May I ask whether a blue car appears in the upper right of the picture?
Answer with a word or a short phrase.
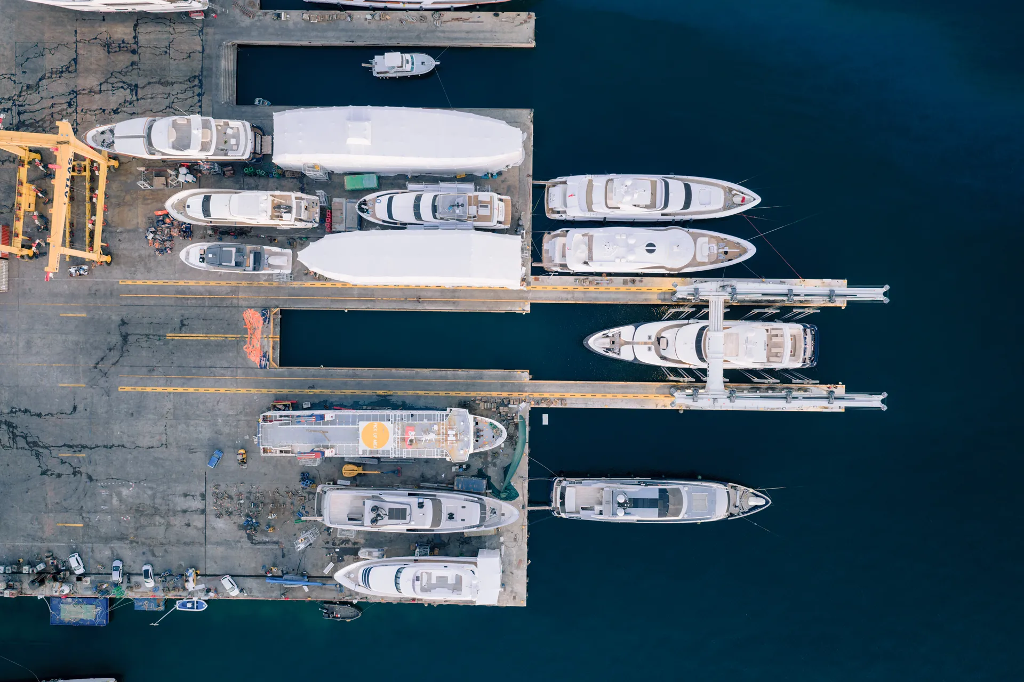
No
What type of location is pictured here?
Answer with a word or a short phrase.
port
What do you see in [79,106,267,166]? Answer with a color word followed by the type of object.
white boat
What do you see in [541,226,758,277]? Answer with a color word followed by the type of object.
white boat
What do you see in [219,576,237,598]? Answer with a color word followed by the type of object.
white car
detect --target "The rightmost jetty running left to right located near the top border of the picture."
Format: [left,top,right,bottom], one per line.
[260,9,535,50]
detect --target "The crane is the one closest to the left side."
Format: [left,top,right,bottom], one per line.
[0,117,128,294]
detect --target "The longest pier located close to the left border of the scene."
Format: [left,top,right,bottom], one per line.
[50,597,112,626]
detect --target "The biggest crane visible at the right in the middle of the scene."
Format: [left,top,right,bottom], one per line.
[658,281,889,412]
